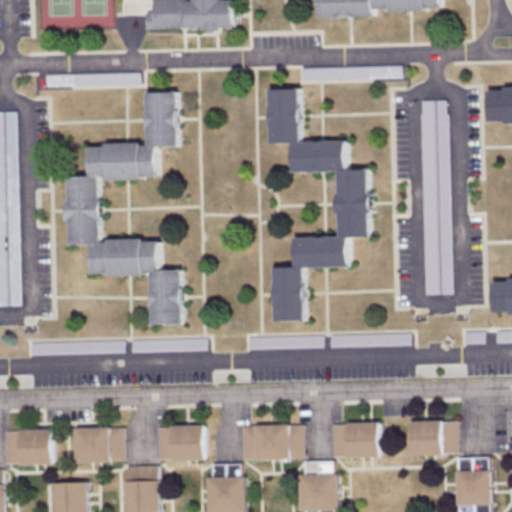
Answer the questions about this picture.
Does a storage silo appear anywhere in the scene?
No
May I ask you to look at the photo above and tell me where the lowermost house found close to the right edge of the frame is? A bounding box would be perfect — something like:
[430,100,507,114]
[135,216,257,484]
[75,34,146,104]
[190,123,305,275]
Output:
[456,456,495,512]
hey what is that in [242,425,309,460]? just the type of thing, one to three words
house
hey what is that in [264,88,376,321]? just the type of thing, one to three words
building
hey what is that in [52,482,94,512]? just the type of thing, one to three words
house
